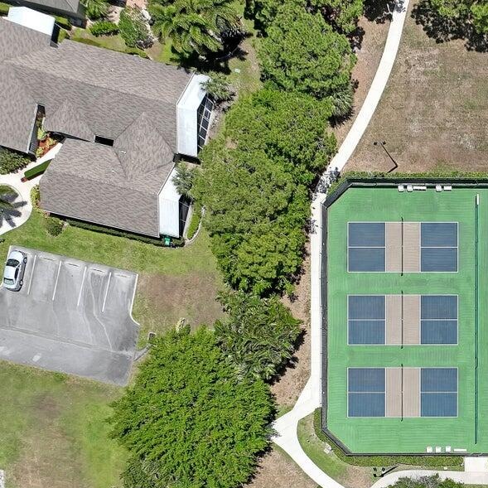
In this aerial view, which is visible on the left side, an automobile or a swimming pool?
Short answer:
automobile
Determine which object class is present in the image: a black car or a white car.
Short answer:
white car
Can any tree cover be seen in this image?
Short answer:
Yes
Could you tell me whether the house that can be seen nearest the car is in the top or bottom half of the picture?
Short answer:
top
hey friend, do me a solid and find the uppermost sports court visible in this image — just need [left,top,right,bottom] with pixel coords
[347,221,458,272]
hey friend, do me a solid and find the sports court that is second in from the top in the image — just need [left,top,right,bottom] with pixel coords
[347,294,458,345]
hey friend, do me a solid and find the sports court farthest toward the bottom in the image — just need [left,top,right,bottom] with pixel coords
[347,367,458,417]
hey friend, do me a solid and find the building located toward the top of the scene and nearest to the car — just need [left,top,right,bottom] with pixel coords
[0,6,216,237]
